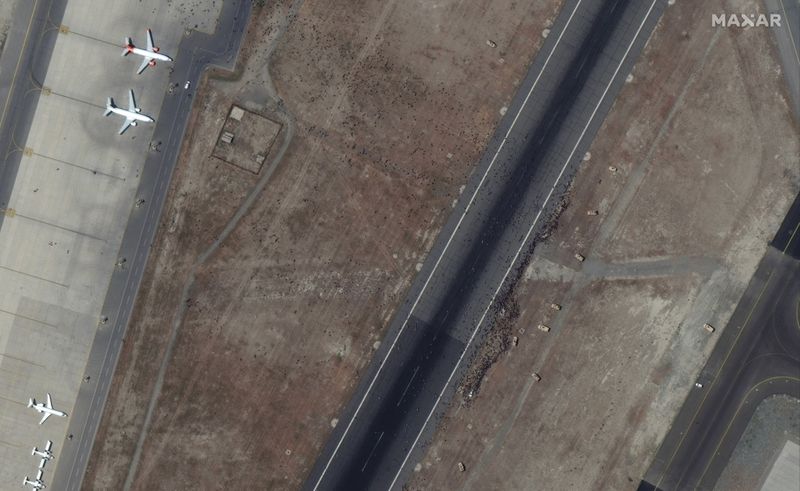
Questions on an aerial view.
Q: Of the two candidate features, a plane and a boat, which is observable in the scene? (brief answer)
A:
plane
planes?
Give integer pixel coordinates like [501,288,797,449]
[23,472,45,491]
[28,393,66,424]
[31,443,53,469]
[105,91,153,134]
[123,30,172,73]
